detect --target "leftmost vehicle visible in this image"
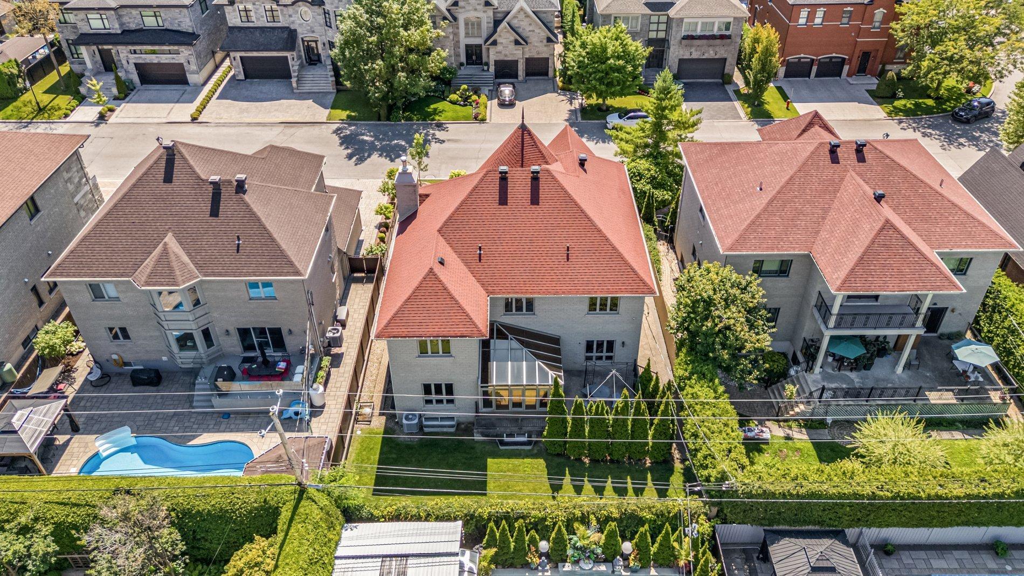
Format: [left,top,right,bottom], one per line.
[495,77,518,102]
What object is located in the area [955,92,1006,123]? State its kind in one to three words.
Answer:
car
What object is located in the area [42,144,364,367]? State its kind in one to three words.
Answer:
house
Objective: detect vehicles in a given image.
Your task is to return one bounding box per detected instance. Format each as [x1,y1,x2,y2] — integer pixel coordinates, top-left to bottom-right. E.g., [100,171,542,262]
[955,92,1006,123]
[495,77,518,102]
[607,109,658,134]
